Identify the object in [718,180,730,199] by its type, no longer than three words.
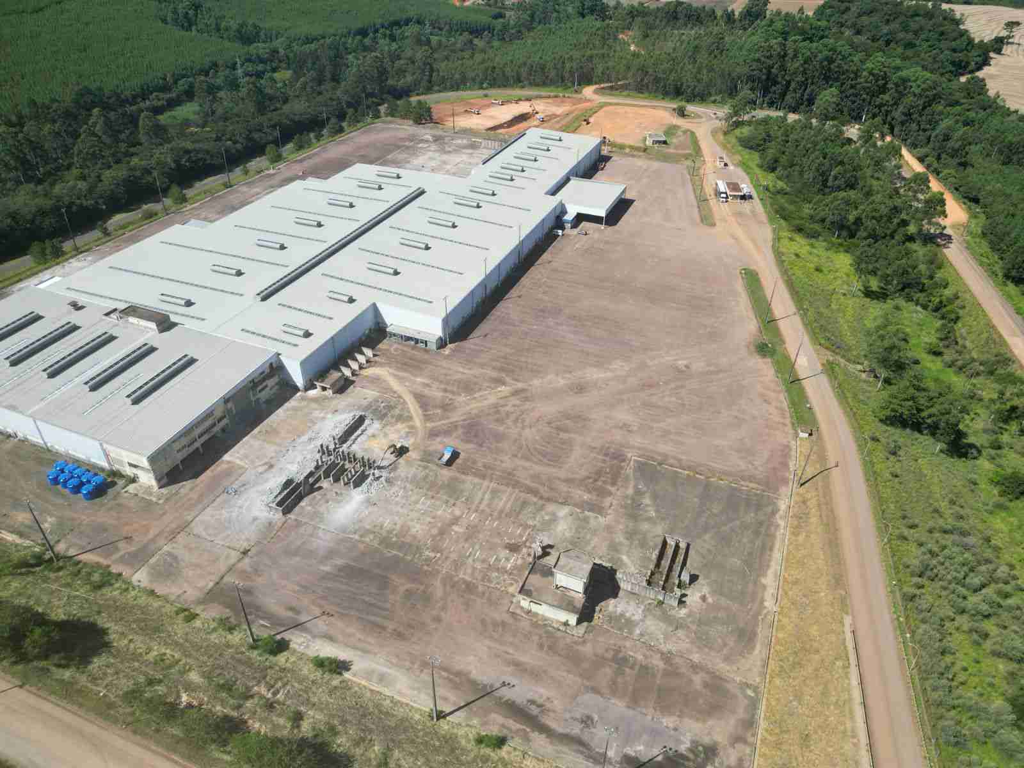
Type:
vehicle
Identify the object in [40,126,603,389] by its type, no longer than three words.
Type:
building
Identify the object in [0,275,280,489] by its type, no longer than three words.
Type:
building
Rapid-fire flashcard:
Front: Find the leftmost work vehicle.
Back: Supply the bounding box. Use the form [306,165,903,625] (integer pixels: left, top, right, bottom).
[378,439,413,465]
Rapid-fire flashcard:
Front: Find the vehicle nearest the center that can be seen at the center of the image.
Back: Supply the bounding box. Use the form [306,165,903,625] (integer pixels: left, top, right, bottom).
[437,442,459,466]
